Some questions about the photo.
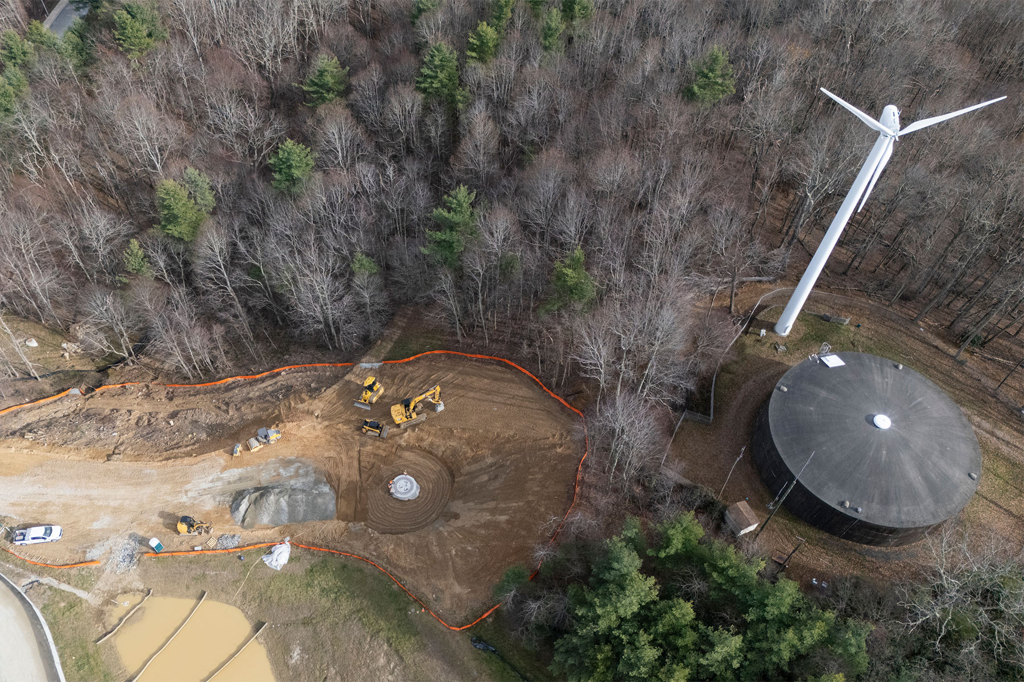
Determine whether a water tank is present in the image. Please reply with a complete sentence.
Yes, there is a water tank in the image.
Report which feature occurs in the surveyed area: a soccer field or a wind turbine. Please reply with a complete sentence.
Visible in the photo is a wind turbine.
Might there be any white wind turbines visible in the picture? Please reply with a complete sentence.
Yes, there is a white wind turbine in the image.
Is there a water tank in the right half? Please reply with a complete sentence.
Yes, in the right half there is a water tank.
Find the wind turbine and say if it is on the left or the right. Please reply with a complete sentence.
The wind turbine is on the right side of the image.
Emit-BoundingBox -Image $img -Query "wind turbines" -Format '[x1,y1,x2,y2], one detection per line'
[774,88,1006,337]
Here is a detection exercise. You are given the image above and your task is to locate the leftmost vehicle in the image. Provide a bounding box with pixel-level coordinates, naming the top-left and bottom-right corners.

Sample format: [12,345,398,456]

[14,524,63,543]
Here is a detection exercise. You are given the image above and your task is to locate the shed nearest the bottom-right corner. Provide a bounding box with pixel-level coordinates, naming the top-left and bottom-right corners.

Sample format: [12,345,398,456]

[726,495,763,534]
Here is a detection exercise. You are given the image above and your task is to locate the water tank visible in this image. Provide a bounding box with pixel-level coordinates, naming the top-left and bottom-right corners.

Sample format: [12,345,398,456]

[759,341,982,547]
